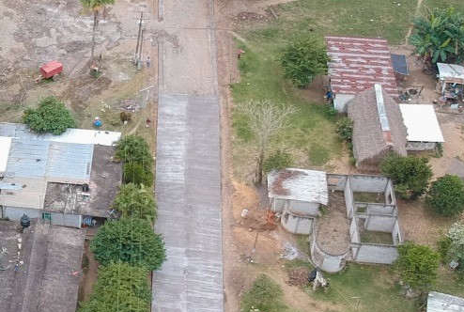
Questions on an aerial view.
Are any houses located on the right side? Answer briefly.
Yes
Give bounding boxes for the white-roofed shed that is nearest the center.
[267,168,327,215]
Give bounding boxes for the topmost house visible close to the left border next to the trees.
[0,123,123,226]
